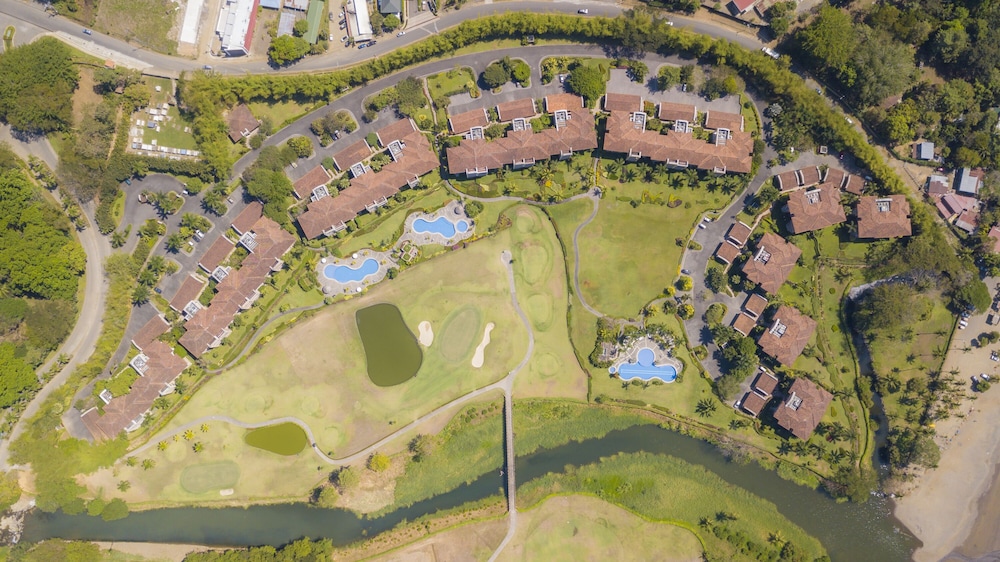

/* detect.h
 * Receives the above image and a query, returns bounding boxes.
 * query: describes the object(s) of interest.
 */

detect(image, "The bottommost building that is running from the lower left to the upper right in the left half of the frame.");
[95,337,193,439]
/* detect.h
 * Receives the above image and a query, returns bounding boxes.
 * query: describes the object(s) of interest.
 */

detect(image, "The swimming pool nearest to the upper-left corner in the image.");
[323,258,380,283]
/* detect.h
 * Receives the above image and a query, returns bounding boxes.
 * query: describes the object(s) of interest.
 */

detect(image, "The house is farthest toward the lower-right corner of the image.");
[772,380,833,439]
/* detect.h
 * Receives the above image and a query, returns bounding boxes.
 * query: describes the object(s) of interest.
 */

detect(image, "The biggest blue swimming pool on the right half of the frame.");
[617,348,677,382]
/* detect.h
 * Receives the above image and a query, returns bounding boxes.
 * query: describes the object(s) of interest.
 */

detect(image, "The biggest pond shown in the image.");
[357,302,423,386]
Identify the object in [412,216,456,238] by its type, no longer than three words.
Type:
swimming pool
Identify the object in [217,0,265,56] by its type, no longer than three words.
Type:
building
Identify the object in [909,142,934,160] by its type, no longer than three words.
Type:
house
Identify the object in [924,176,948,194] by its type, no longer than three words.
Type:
house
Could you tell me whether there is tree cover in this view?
Yes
